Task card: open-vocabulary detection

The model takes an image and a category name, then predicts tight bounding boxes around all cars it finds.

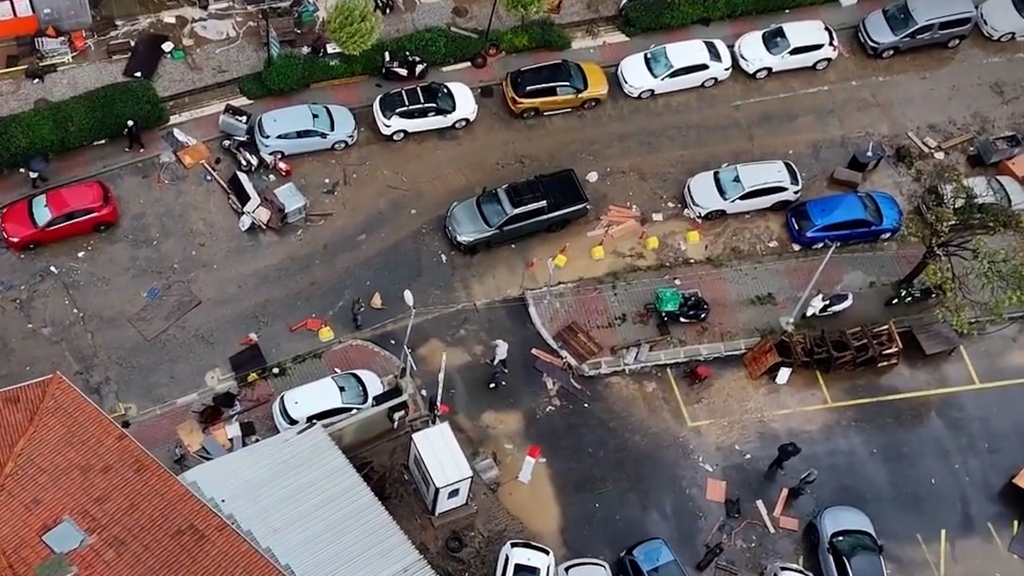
[0,176,121,251]
[617,37,729,99]
[619,535,690,576]
[268,364,387,434]
[812,506,888,576]
[684,153,806,221]
[493,537,556,576]
[501,53,610,120]
[786,184,906,254]
[977,0,1024,42]
[558,555,617,576]
[371,73,480,141]
[251,96,358,162]
[735,14,842,79]
[856,0,979,59]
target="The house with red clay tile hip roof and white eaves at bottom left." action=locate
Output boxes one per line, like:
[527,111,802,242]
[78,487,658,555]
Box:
[0,370,295,576]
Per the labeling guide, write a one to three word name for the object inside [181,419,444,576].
shed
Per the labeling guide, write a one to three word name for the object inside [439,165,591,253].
truck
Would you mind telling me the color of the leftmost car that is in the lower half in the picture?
white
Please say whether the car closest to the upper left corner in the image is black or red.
red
